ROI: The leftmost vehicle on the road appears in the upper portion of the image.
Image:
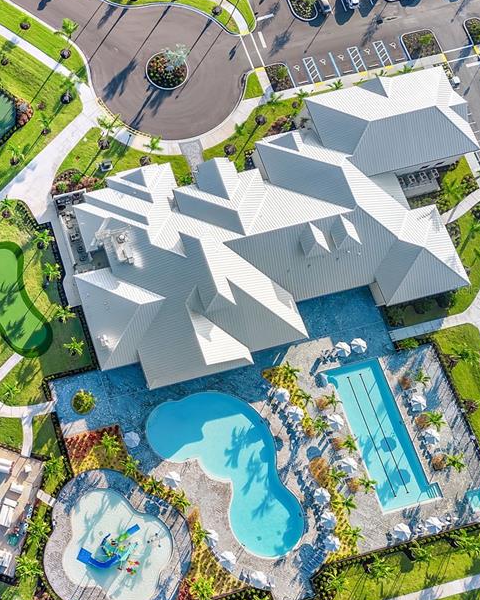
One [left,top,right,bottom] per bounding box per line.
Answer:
[317,0,332,14]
